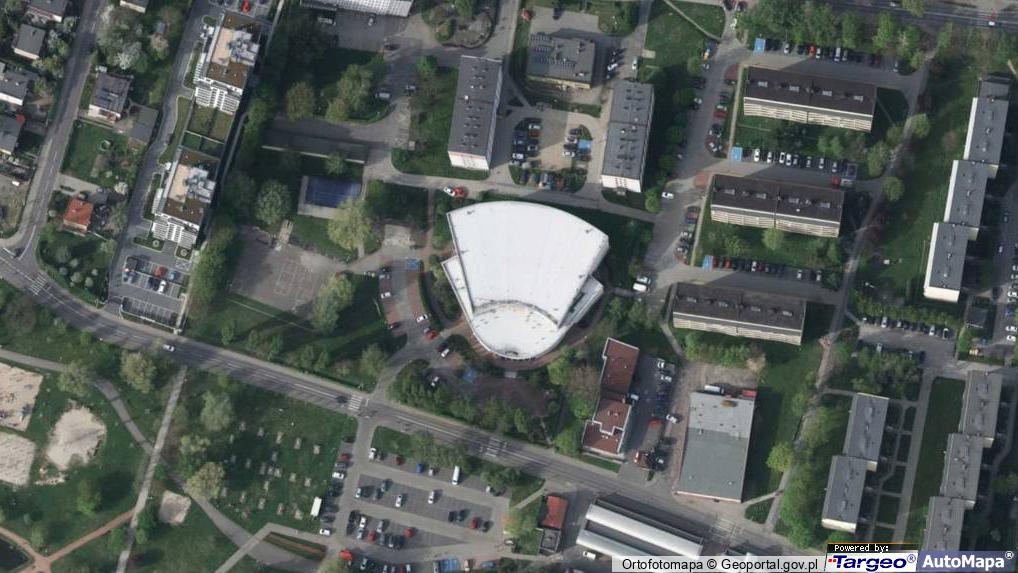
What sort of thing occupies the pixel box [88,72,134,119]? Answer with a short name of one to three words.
house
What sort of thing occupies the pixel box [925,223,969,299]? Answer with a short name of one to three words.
building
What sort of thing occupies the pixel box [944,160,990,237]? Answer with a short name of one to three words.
building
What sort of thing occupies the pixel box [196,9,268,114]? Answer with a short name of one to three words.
house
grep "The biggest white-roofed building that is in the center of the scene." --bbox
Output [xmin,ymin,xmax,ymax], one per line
[440,200,610,364]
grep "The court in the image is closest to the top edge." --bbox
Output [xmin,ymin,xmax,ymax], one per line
[298,176,362,218]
